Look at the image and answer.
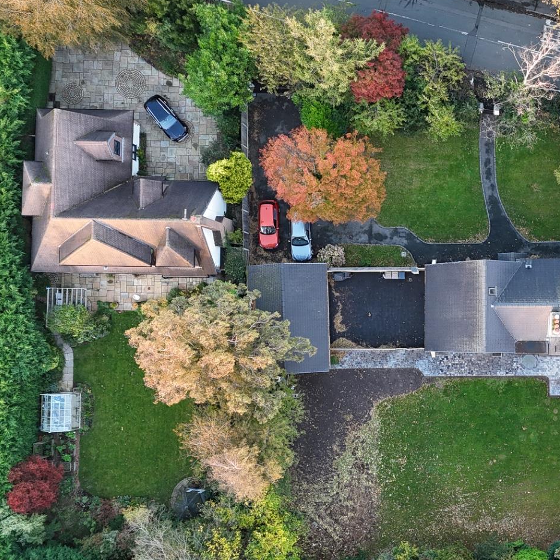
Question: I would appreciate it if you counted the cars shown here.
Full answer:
There are 3 cars in the image.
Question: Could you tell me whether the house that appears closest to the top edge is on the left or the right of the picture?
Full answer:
The house that appears closest to the top edge sits on the left side.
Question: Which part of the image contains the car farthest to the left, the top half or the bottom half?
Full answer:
Seen from above, the car farthest to the left lies in the top half of the view.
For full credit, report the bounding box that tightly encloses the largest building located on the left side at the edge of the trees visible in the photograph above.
[22,108,236,274]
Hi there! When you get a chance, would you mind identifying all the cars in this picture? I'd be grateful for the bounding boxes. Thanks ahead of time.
[141,91,191,145]
[288,210,314,261]
[254,200,281,247]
